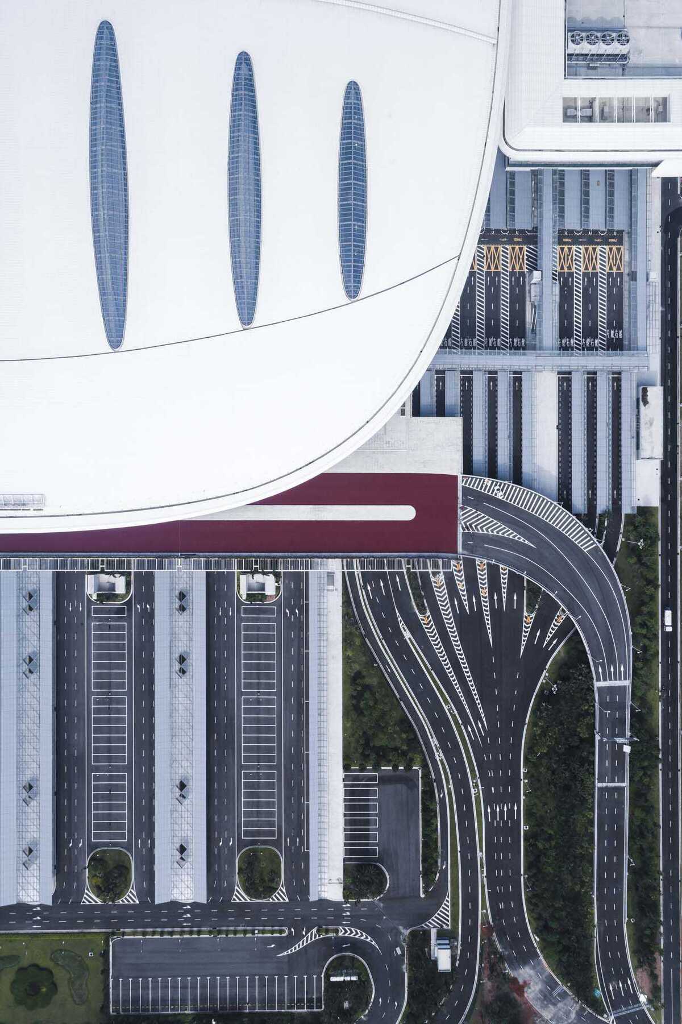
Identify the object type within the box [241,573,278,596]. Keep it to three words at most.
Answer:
building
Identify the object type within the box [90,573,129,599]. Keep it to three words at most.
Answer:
building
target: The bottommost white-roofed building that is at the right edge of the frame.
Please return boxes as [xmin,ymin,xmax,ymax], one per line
[637,387,664,460]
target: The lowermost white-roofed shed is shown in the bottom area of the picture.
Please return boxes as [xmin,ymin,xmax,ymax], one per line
[436,934,451,972]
